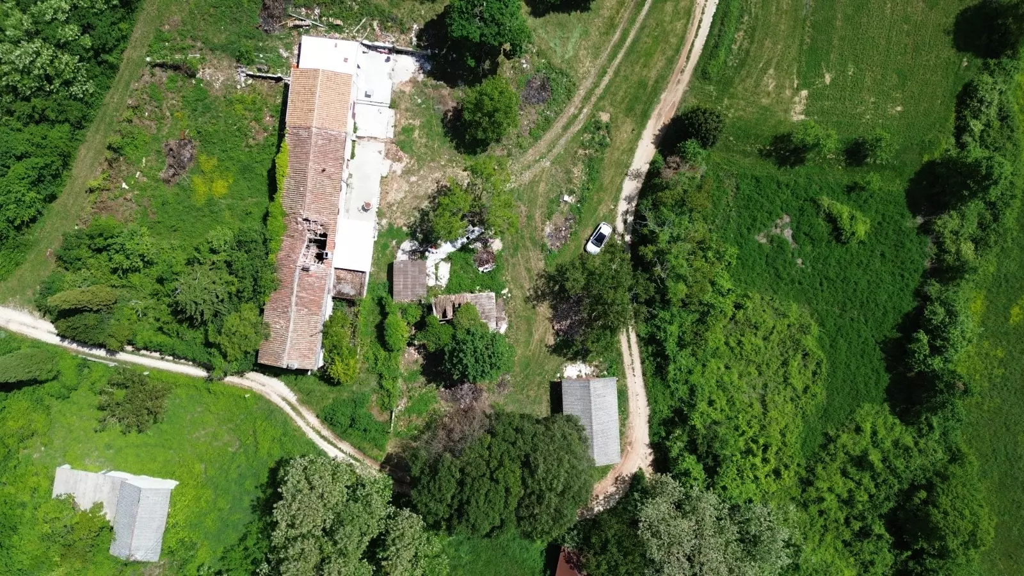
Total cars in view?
one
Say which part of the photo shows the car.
center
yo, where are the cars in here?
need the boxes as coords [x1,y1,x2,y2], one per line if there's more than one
[587,222,611,254]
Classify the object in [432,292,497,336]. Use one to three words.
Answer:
shed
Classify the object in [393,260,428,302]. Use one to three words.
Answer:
shed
